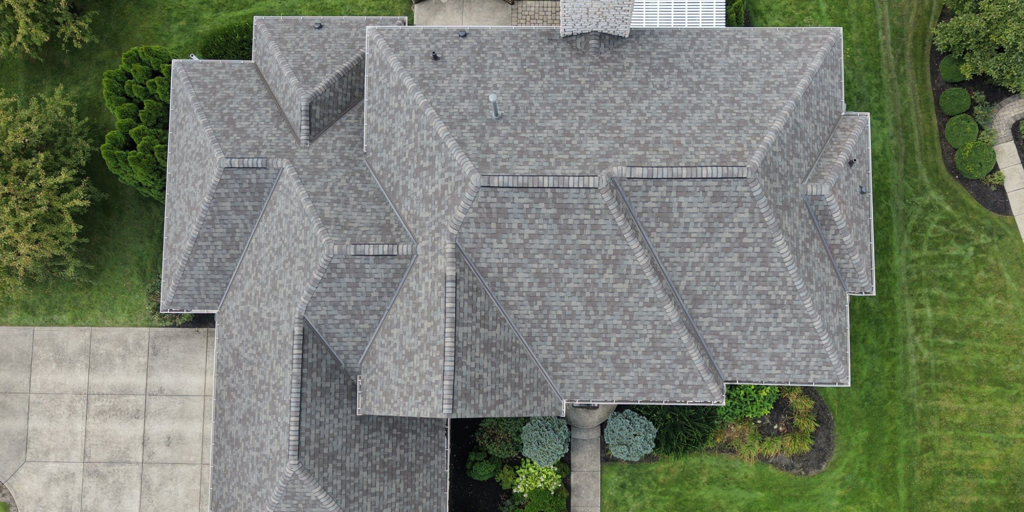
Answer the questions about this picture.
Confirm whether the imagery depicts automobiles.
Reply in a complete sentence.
No, there isn't any automobile down there.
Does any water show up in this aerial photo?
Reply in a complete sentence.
No, no water is visible.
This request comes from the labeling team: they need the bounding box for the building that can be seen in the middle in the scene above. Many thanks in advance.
[161,0,875,512]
